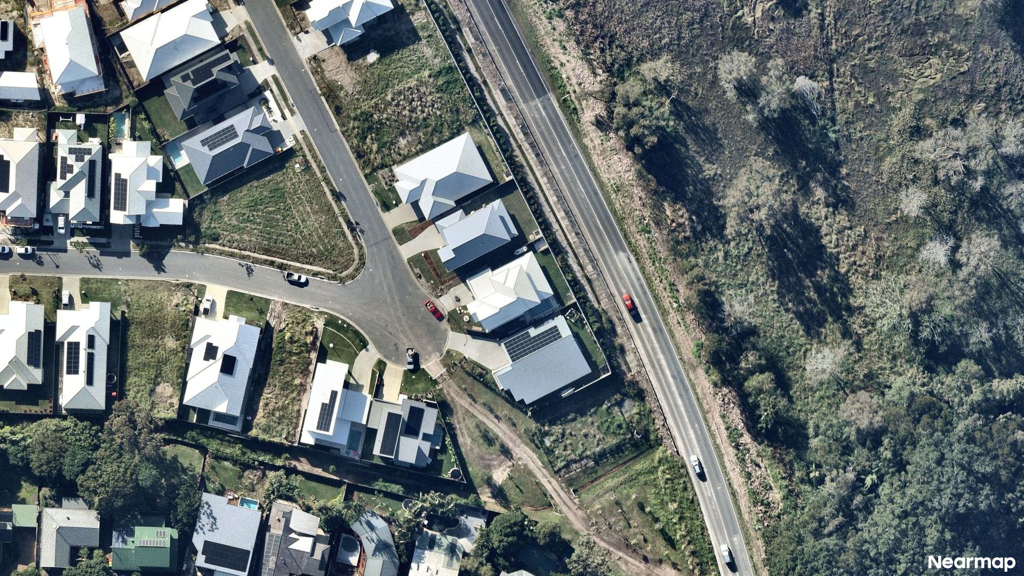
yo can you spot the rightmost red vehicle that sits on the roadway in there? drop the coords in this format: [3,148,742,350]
[622,293,638,317]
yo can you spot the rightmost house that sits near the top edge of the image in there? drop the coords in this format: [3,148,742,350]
[306,0,394,45]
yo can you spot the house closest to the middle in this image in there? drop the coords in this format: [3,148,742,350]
[467,251,554,333]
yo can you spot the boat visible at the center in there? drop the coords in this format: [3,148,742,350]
[510,245,530,258]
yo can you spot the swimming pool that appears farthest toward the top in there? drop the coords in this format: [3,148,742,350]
[109,112,127,140]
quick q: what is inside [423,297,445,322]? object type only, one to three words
truck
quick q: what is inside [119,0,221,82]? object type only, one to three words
house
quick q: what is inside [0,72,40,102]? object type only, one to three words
house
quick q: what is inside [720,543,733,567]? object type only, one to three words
vehicle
